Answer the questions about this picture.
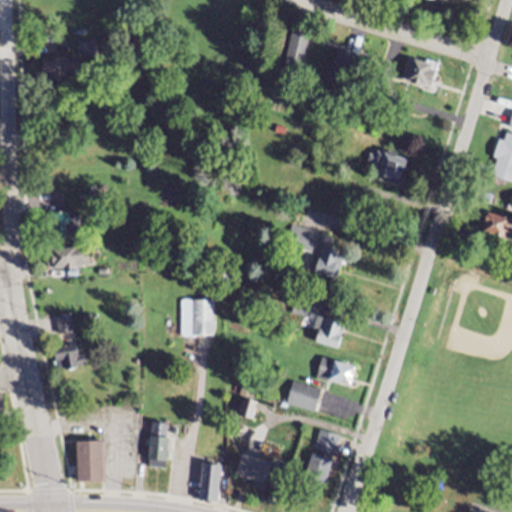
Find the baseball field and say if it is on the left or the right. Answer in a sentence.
The baseball field appears in the right half of the scene.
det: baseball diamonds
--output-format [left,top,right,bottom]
[428,270,512,444]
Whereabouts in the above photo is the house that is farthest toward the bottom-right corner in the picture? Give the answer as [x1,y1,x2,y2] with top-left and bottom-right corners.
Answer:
[310,430,337,483]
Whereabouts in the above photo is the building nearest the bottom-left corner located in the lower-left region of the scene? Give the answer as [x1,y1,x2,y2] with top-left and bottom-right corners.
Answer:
[76,442,102,482]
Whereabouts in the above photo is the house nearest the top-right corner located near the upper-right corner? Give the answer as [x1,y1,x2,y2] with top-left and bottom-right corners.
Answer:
[413,56,444,91]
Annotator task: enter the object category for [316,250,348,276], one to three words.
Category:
house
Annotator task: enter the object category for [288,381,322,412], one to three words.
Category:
building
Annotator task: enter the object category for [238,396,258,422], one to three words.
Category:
building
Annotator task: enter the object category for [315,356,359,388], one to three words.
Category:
house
